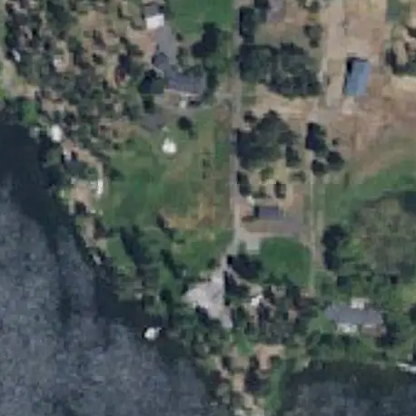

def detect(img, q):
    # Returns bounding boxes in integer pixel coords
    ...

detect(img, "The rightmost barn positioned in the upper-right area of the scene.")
[343,56,372,97]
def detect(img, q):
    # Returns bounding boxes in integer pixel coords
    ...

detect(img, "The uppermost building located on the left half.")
[145,1,166,31]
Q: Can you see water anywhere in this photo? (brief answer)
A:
Yes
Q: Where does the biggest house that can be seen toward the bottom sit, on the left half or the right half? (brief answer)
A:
right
